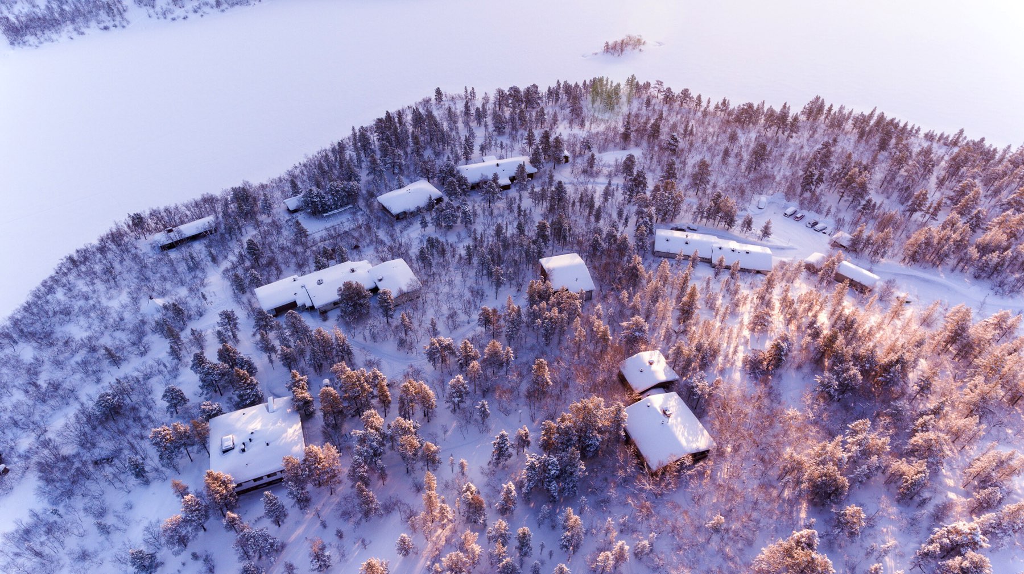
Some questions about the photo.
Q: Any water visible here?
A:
Yes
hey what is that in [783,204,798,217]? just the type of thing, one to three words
vehicle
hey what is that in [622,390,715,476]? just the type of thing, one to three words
house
